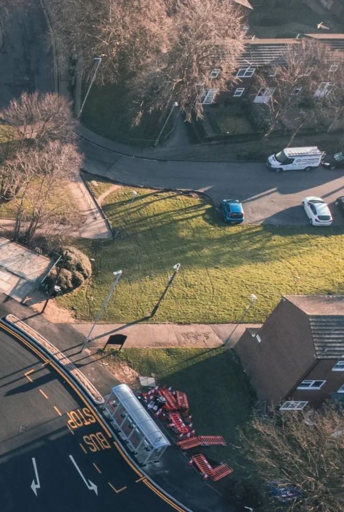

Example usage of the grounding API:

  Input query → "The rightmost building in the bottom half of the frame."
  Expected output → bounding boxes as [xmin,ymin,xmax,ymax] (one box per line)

[229,294,344,404]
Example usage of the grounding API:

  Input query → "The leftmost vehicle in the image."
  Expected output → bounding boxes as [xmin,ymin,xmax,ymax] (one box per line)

[222,194,248,226]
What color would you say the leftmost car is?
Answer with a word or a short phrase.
blue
